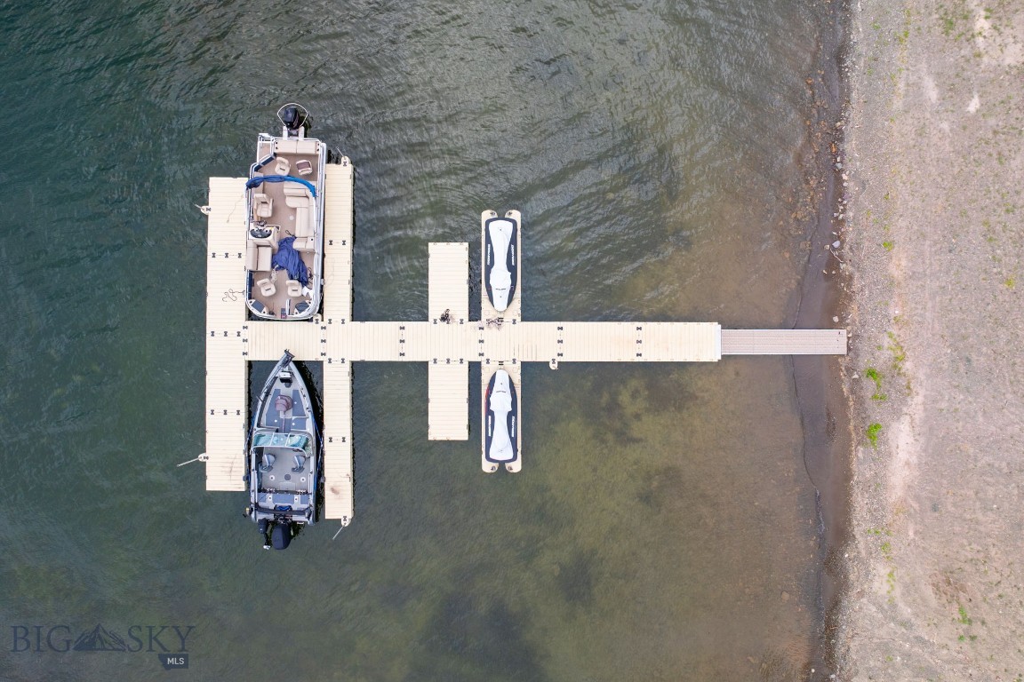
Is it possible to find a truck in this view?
No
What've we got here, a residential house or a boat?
boat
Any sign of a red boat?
No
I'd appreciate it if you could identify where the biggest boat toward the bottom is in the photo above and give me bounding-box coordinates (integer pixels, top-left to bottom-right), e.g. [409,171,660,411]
[244,349,318,550]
